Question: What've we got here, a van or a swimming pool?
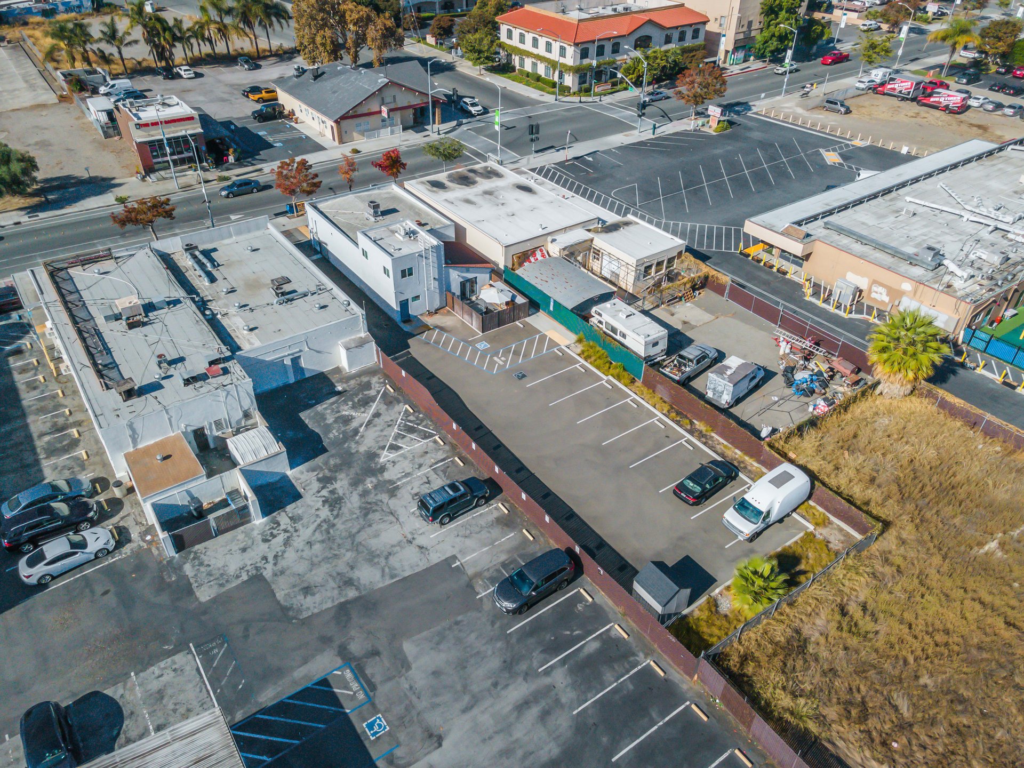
van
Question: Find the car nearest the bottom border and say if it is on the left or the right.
left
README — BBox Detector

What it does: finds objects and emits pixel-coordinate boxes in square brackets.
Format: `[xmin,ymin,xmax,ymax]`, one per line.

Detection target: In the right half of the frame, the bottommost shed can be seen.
[627,556,695,624]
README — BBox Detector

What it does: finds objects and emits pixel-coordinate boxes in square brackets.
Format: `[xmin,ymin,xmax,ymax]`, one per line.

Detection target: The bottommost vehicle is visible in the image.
[13,698,84,768]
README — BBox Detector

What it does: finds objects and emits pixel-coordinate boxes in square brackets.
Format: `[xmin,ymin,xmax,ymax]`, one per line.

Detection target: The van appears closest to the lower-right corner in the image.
[714,468,809,547]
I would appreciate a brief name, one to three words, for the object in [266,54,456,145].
building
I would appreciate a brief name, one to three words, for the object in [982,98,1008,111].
vehicle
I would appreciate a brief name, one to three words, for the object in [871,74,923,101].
truck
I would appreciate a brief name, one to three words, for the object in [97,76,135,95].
vehicle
